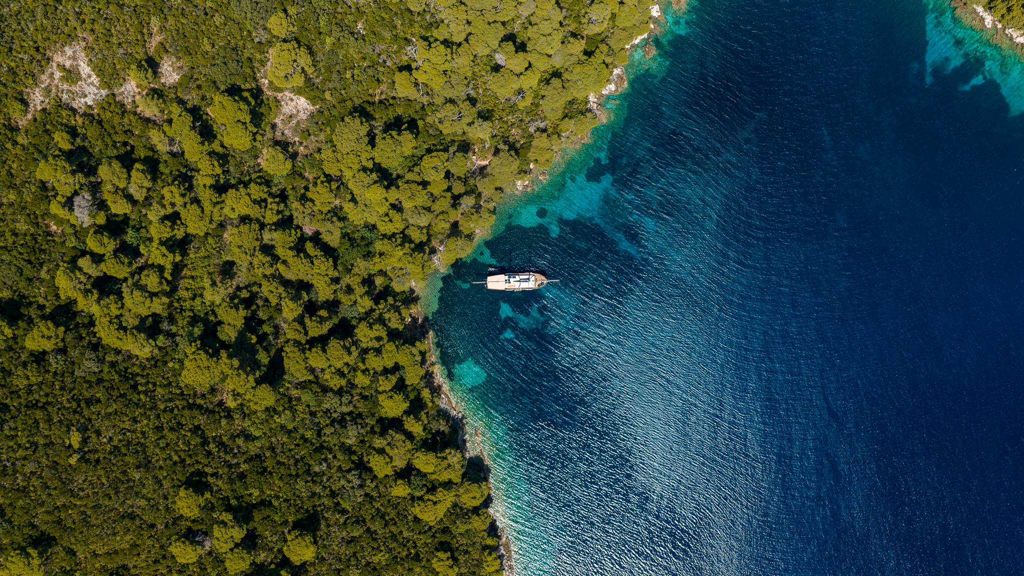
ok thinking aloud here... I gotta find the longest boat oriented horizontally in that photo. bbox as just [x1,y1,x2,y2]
[472,273,560,292]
